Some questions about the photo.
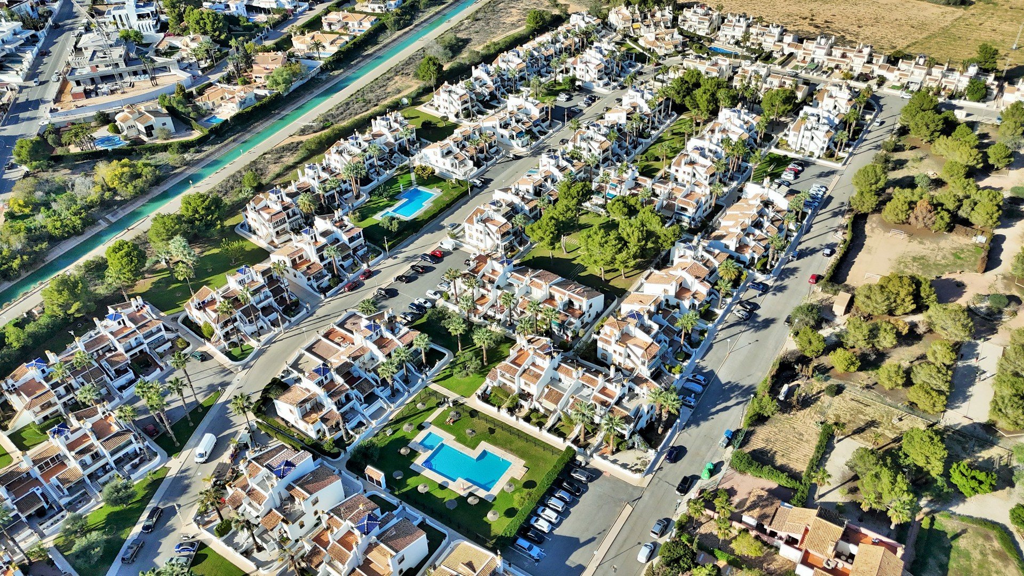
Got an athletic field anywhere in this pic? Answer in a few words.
Yes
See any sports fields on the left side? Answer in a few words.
No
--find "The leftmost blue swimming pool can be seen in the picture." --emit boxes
[91,133,128,148]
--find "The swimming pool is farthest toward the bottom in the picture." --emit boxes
[408,422,529,502]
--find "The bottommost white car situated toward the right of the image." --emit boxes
[637,538,655,564]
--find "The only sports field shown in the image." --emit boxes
[834,212,985,287]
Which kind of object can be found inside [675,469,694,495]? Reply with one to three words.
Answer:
vehicle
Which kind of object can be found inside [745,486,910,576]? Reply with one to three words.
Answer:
house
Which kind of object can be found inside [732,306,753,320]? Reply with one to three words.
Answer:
car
